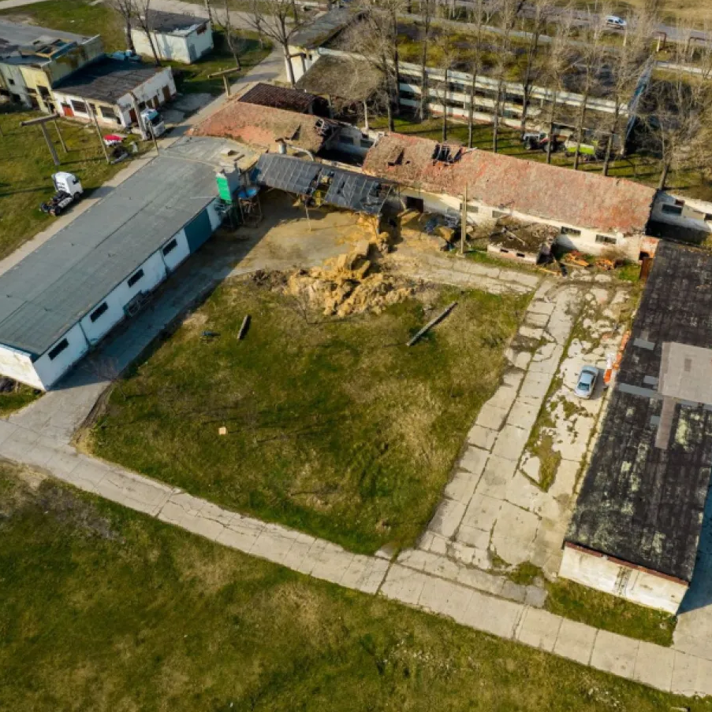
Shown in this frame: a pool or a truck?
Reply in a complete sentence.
The one in the frame is a truck.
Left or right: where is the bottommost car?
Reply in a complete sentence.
It is on the right.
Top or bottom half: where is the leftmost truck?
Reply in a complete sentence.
It is in the top half that the leftmost truck appears.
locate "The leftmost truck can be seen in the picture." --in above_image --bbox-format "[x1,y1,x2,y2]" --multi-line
[40,176,86,214]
